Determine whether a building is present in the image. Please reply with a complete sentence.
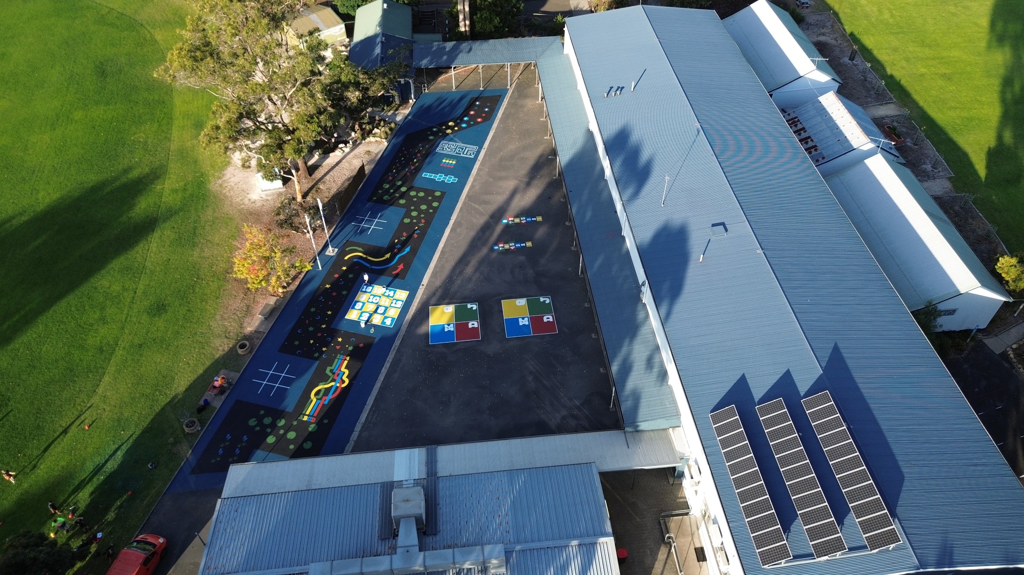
Yes, this view includes a building.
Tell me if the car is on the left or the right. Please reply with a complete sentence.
The car appears in the left half of the scene.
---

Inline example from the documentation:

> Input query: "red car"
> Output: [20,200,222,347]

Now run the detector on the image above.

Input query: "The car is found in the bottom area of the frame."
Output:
[106,534,160,575]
